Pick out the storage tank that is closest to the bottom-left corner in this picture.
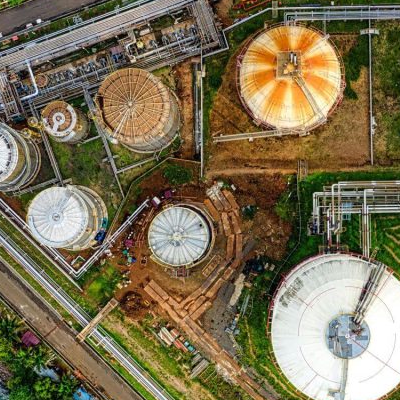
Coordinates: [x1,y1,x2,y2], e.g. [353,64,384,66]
[25,184,108,252]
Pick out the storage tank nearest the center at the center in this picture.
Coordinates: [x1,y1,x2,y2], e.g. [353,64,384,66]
[149,202,218,278]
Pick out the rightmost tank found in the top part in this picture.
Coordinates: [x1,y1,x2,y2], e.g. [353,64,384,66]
[212,23,346,141]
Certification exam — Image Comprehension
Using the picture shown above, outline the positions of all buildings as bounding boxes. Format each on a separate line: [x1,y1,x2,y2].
[75,386,97,400]
[21,330,43,347]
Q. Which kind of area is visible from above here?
industrial area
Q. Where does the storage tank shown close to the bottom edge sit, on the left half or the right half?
right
